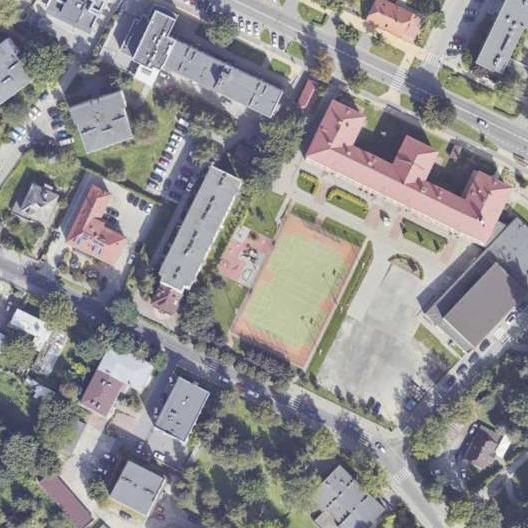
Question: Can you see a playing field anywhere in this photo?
Yes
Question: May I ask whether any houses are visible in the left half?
Yes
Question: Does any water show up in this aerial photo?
No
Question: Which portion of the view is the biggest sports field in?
center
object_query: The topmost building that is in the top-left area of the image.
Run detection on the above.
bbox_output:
[45,0,110,35]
